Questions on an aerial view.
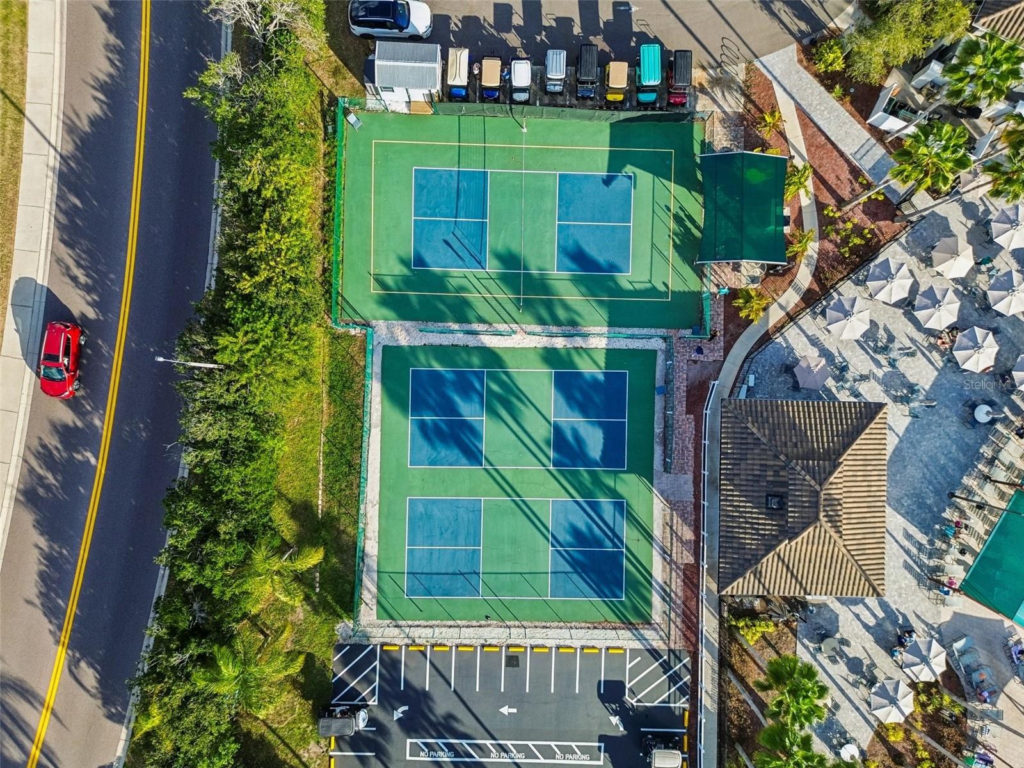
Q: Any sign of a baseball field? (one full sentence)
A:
No, this view has no baseball field in it.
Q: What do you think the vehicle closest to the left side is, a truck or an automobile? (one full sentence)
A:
It looks like the vehicle closest to the left side is an automobile.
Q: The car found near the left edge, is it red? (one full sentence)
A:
Yes, red is the color of the car found near the left edge.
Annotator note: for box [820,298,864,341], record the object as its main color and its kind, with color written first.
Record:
white umbrella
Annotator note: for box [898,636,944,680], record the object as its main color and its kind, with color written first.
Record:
white umbrella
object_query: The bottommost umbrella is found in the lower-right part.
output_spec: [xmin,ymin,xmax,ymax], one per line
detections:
[866,678,911,721]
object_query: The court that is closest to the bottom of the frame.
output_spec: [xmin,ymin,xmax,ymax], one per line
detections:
[377,483,655,624]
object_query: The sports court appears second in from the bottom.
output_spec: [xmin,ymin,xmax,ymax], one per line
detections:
[379,345,658,485]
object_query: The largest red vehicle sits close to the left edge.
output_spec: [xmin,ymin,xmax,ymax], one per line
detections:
[38,324,87,398]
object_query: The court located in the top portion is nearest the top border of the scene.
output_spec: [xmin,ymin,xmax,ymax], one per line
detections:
[339,108,703,327]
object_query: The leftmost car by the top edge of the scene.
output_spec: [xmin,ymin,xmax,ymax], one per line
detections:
[349,0,429,40]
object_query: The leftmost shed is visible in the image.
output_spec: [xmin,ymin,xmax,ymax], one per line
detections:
[366,37,443,117]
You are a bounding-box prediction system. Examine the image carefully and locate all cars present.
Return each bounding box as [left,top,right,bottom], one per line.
[38,324,87,398]
[349,0,429,40]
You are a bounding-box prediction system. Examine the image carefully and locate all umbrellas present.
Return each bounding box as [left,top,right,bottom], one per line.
[820,298,864,341]
[864,259,911,307]
[992,348,1024,391]
[977,269,1024,314]
[791,356,829,391]
[940,165,982,199]
[866,678,911,721]
[979,206,1024,251]
[925,235,971,279]
[898,636,944,680]
[909,285,957,333]
[945,326,995,373]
